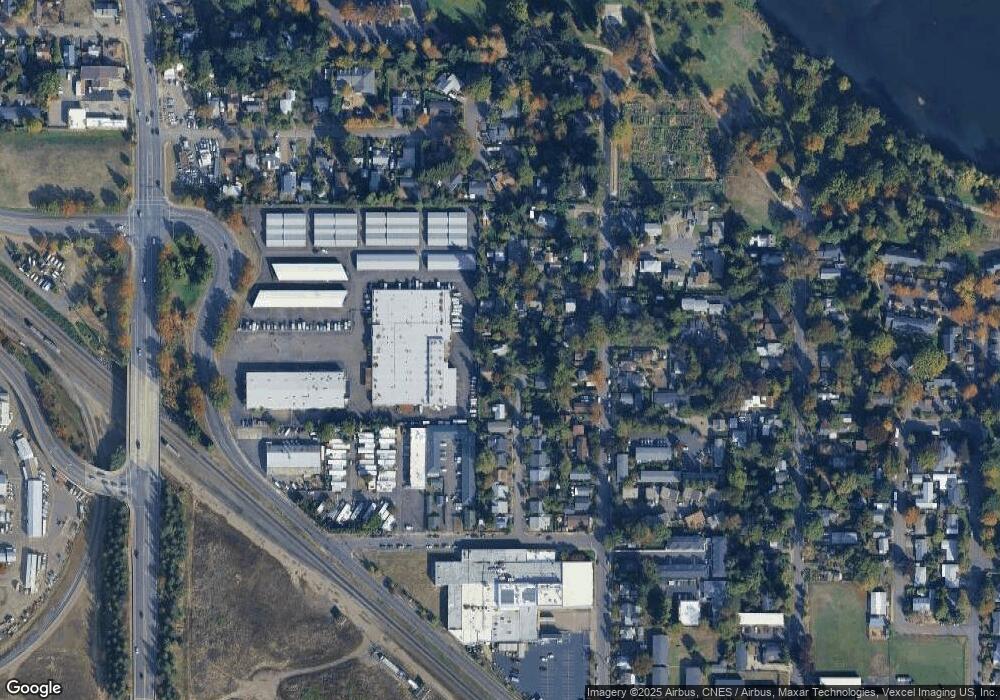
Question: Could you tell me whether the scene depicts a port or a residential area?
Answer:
residential area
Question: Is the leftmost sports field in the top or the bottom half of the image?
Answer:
bottom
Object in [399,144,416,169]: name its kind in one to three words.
house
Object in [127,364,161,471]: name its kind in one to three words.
overpass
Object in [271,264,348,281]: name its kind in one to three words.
shed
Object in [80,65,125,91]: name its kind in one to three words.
building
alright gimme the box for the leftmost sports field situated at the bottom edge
[808,581,888,690]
